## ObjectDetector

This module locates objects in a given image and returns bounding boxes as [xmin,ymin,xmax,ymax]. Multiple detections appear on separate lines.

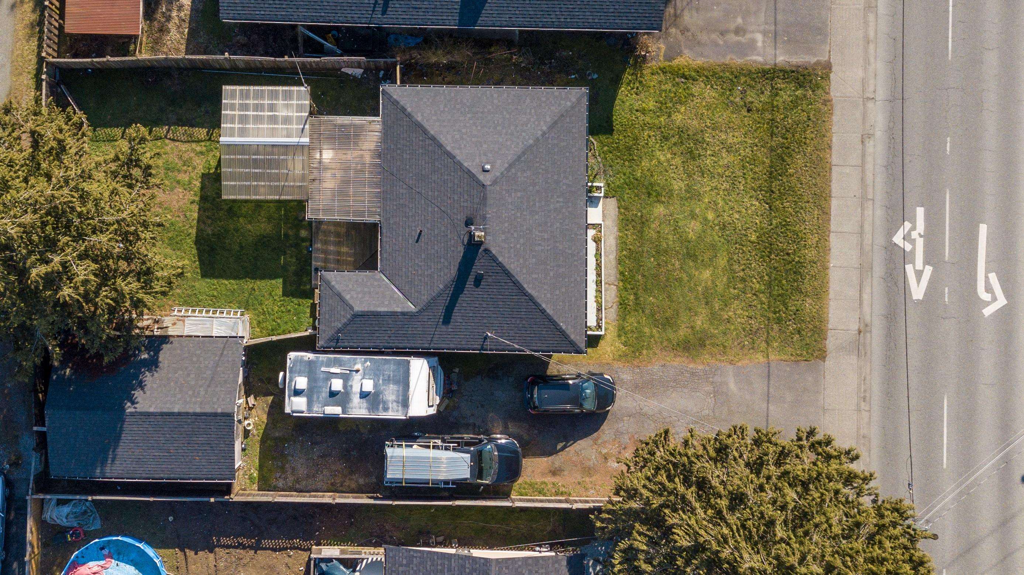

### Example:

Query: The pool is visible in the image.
[60,526,173,575]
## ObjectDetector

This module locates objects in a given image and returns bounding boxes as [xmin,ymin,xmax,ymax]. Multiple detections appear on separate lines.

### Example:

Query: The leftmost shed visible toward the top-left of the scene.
[65,0,152,46]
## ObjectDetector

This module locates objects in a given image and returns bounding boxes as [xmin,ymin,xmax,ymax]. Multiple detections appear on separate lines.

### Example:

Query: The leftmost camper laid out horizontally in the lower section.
[279,351,446,420]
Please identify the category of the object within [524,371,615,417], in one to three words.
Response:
car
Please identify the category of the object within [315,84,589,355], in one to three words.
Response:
house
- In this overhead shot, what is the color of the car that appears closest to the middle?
black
